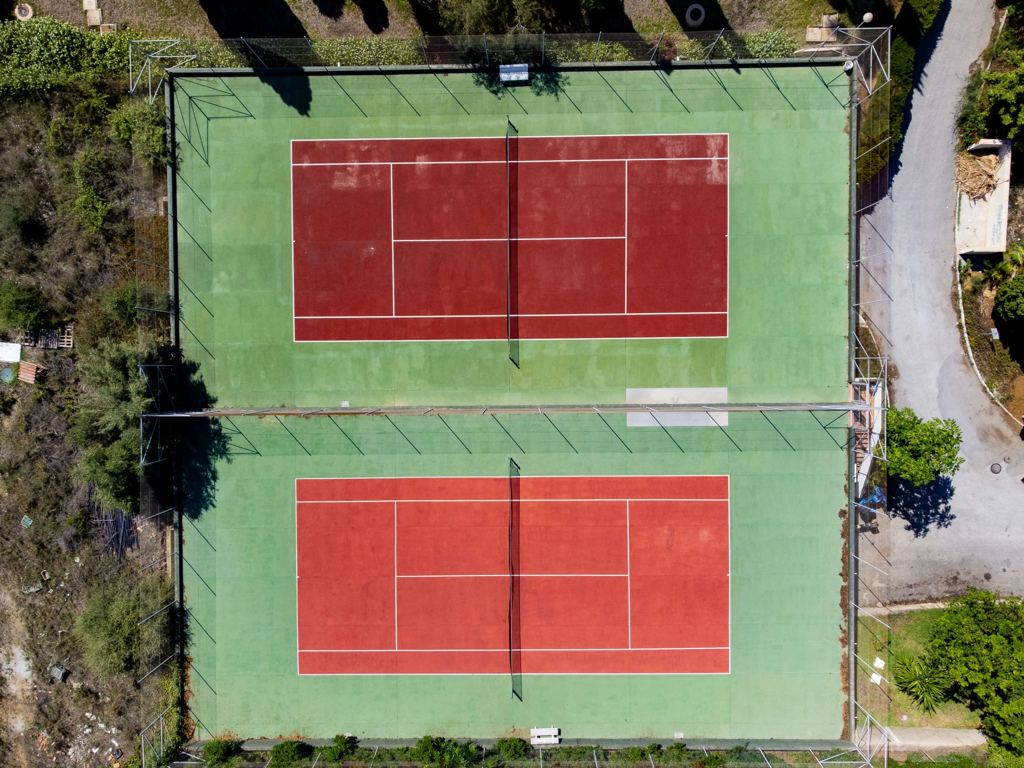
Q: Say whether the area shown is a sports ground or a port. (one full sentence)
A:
The picture captures a sports ground.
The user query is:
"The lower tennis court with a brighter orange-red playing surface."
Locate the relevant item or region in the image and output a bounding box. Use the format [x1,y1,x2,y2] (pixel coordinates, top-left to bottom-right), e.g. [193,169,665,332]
[181,407,849,740]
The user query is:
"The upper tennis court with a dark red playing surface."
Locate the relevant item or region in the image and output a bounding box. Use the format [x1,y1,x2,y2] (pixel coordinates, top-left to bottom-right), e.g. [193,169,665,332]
[175,66,849,407]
